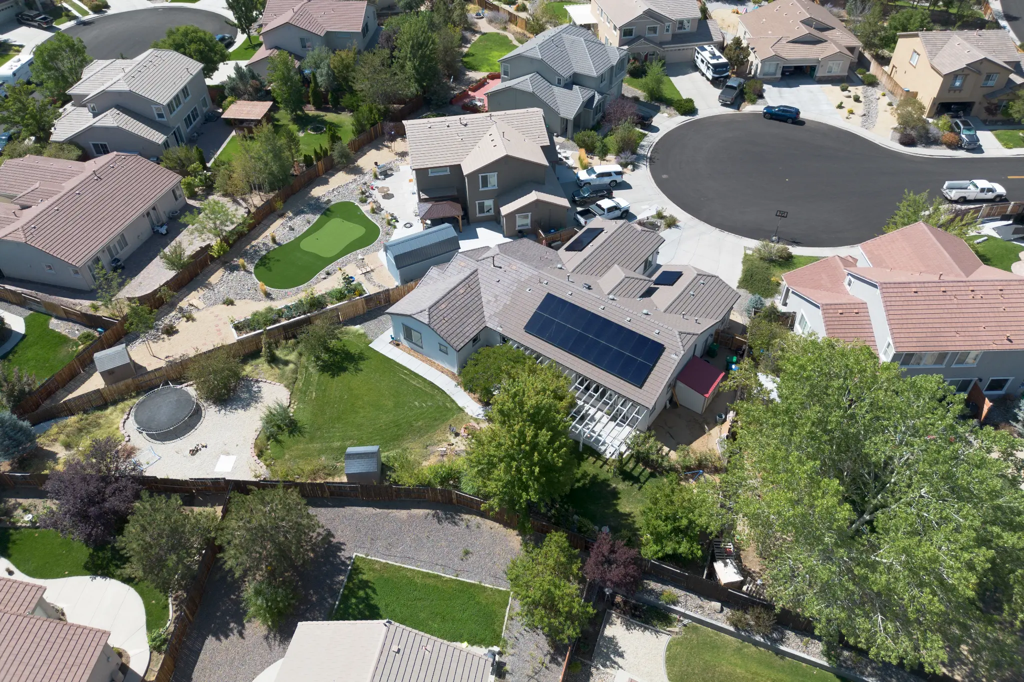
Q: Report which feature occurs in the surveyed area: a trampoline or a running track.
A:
trampoline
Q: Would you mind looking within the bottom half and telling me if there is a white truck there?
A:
No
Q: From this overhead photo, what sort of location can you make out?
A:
residential area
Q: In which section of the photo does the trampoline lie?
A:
left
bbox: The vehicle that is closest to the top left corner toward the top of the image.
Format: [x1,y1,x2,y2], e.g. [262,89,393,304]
[16,10,54,29]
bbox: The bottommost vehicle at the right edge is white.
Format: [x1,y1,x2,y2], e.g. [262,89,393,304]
[938,177,1012,204]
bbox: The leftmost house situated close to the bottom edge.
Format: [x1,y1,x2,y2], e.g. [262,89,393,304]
[0,571,122,682]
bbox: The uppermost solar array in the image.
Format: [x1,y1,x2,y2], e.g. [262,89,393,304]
[558,225,612,258]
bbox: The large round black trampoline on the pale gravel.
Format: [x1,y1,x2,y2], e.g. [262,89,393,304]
[128,382,203,440]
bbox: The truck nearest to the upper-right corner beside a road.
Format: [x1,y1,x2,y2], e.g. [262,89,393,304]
[953,120,985,152]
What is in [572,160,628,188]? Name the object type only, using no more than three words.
car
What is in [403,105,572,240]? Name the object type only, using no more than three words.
house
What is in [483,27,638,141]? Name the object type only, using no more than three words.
house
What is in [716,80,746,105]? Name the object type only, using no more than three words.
truck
